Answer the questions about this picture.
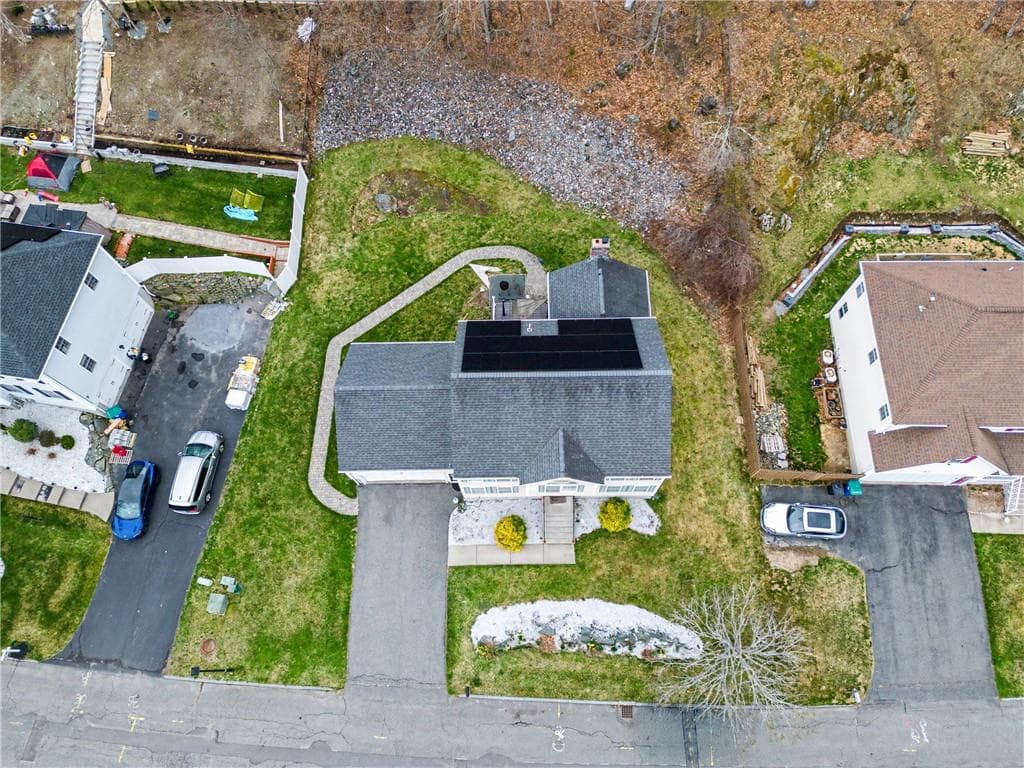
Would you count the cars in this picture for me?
3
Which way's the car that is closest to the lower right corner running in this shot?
from side to side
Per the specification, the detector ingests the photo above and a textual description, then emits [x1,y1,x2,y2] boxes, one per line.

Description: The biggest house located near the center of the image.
[331,234,677,548]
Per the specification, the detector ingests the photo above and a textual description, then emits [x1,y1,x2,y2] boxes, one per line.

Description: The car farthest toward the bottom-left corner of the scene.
[111,459,164,541]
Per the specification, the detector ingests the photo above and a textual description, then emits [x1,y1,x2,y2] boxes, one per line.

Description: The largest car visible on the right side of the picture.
[760,499,851,541]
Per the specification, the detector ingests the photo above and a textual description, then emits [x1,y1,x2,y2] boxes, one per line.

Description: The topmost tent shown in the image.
[23,153,83,191]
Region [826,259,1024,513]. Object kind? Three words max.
house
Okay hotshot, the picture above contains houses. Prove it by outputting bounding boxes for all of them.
[0,220,154,414]
[826,259,1024,513]
[331,234,677,548]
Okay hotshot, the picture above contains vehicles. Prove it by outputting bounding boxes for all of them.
[111,459,164,541]
[760,499,851,541]
[171,431,228,515]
